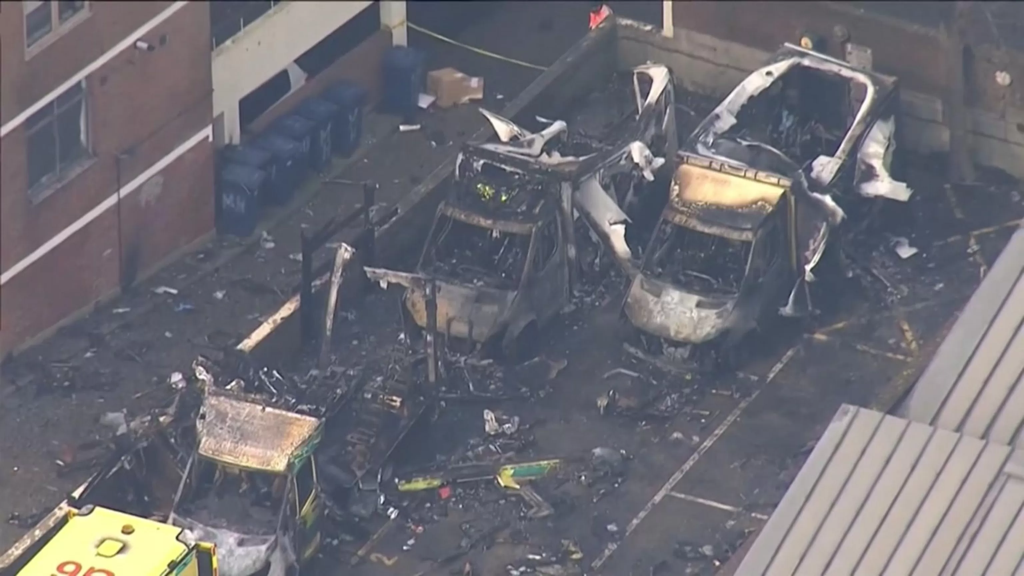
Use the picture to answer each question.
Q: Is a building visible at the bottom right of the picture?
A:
Yes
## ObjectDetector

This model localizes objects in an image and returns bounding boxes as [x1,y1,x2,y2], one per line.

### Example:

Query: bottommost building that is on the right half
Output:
[734,400,1024,576]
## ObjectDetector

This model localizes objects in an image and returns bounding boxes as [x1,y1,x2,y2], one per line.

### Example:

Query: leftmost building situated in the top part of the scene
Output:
[0,0,217,359]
